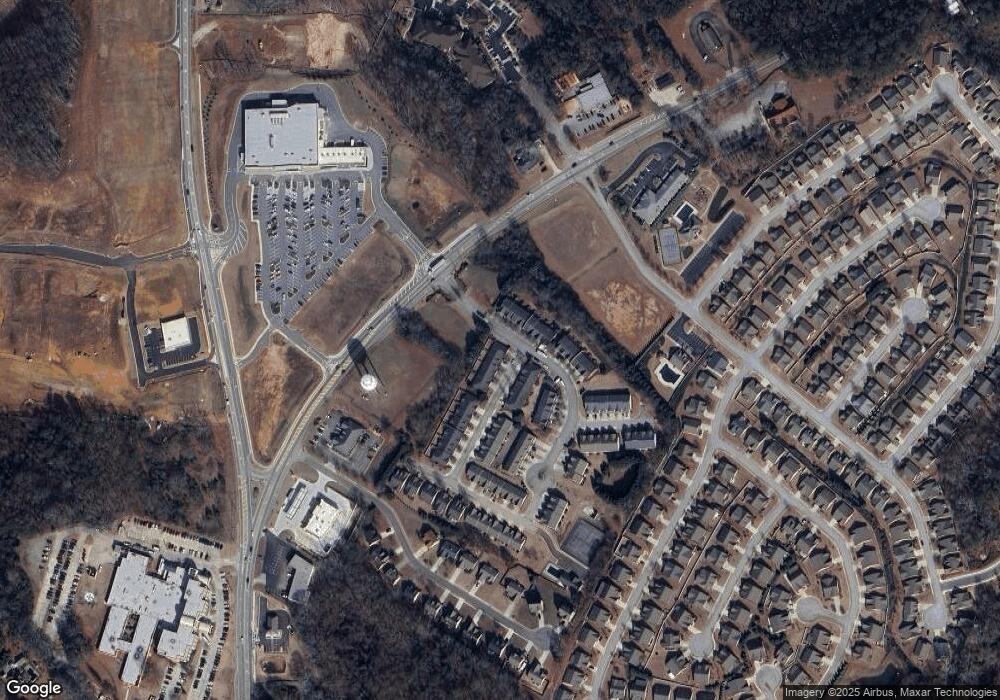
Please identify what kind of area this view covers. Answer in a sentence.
It's a residential area.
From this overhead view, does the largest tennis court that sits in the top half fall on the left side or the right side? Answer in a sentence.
The largest tennis court that sits in the top half appears in the right half of the scene.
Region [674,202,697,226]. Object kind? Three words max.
swimming pool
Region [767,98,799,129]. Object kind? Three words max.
barn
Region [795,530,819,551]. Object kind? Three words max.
house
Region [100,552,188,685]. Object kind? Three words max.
building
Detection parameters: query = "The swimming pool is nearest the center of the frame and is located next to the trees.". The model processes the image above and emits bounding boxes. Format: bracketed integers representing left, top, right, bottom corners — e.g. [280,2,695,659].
[655,359,684,389]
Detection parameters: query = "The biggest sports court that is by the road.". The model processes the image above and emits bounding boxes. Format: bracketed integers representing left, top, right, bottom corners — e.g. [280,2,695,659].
[562,518,604,566]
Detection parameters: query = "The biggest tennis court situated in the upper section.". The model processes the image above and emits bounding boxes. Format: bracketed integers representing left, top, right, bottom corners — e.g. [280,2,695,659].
[658,226,682,265]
